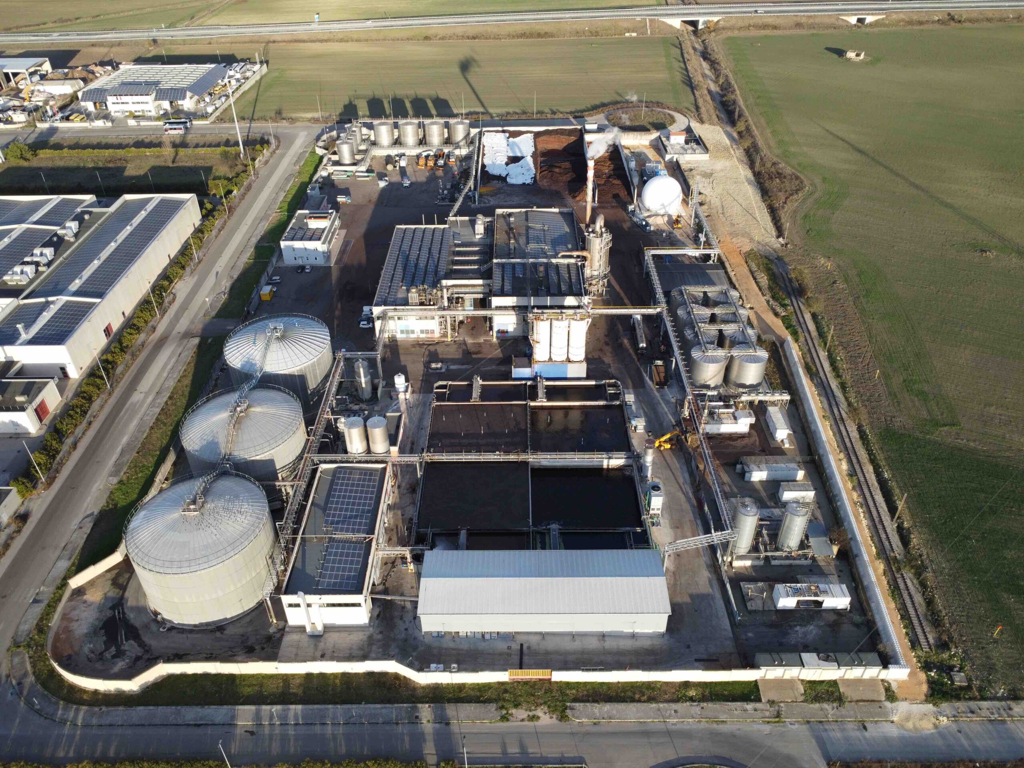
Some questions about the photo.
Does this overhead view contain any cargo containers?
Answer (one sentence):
Yes, a cargo container can be made out from above.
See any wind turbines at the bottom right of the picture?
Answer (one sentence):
No, no wind turbine is visible at the bottom right of the picture.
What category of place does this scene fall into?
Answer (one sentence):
This looks like an industrial area.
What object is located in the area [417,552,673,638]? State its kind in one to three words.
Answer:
shed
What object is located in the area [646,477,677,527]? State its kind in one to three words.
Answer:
cooling tower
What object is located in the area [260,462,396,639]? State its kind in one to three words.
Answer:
building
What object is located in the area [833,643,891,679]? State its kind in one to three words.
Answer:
building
